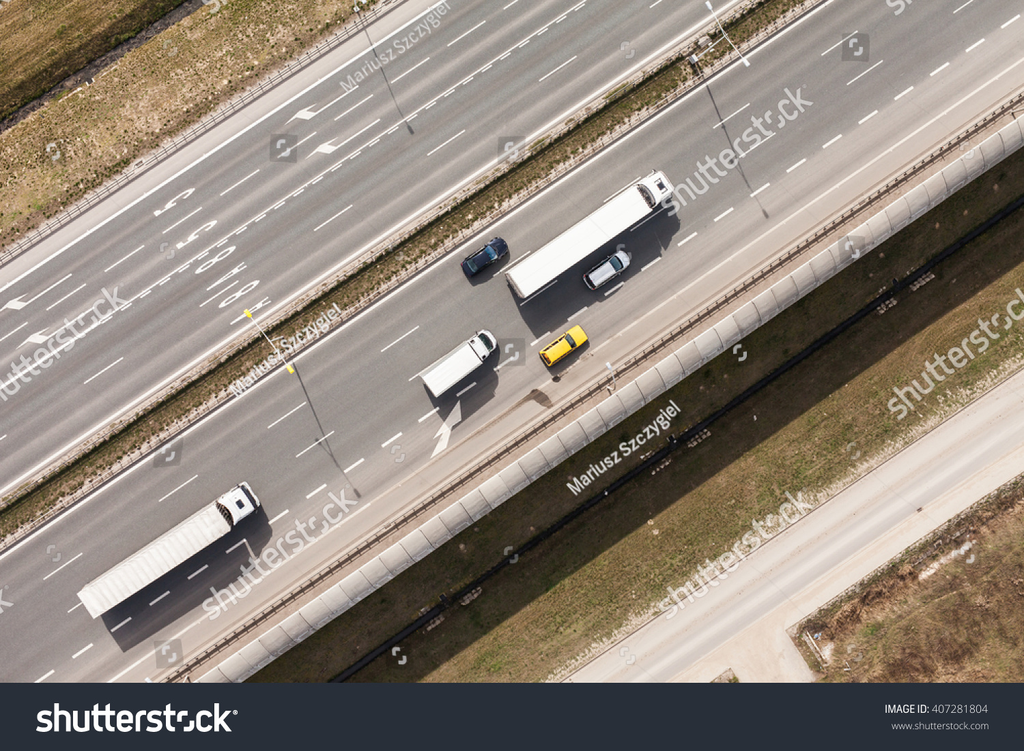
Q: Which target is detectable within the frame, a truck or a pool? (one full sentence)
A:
The one in the frame is a truck.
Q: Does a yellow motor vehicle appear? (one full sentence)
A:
Yes, a yellow motor vehicle can be made out from above.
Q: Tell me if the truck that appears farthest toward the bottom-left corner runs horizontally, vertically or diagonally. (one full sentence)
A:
In this picture, the truck that appears farthest toward the bottom-left corner lies diagonally.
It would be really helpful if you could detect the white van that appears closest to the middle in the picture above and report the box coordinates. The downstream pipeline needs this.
[422,330,499,397]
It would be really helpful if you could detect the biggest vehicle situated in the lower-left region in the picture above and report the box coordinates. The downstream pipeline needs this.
[77,480,266,619]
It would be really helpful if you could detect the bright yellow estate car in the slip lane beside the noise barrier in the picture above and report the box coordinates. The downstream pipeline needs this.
[538,325,588,367]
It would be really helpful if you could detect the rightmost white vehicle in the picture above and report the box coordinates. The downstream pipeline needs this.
[503,166,676,298]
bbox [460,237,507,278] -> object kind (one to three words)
car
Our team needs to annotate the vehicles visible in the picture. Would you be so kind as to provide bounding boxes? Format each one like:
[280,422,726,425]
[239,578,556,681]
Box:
[422,330,499,397]
[77,480,266,619]
[460,237,507,278]
[503,166,676,298]
[538,325,588,367]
